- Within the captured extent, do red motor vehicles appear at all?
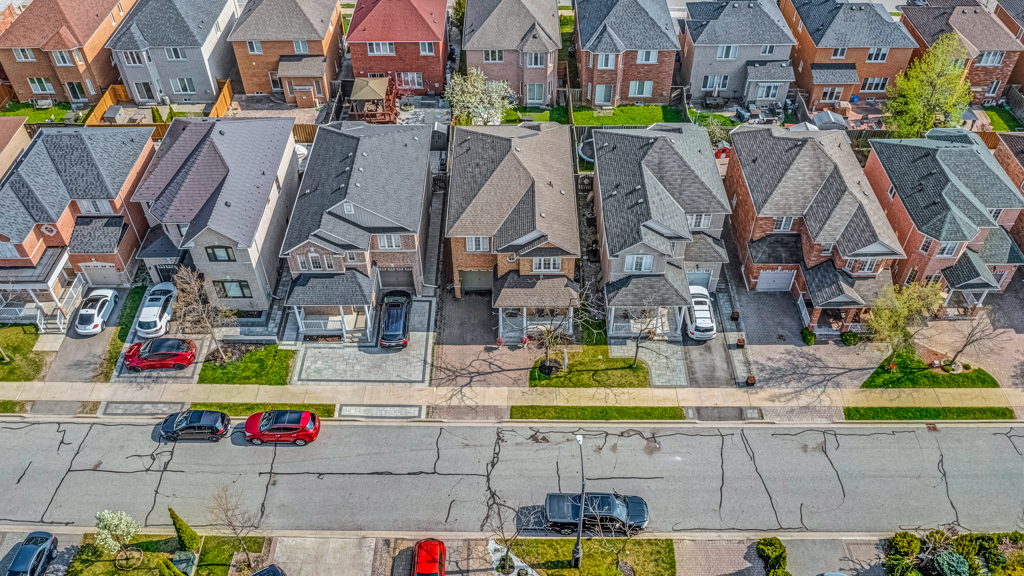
Yes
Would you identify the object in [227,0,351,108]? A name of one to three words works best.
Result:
house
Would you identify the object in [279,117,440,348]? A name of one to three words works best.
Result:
house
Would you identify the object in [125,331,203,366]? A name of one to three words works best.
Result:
car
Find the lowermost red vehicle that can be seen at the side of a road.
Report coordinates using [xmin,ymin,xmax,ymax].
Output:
[413,537,450,576]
